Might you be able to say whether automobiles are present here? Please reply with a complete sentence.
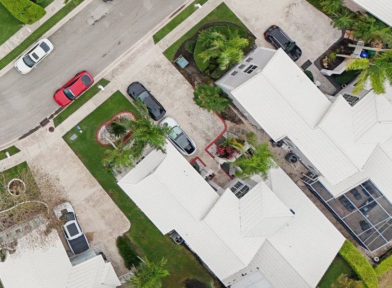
Yes, an automobile appears in the view.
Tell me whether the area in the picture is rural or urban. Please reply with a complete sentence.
It looks urban.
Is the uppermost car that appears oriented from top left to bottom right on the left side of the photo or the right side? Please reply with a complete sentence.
It is on the right.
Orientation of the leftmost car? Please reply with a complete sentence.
What the image shows is the leftmost car lying at an angle.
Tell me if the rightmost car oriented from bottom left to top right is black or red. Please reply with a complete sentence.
From above, the rightmost car oriented from bottom left to top right appears red.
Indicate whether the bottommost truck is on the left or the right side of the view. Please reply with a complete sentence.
The bottommost truck sits on the left side.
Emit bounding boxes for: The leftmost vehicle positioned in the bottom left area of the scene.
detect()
[56,201,90,257]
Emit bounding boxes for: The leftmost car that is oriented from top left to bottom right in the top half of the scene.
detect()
[127,80,167,121]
